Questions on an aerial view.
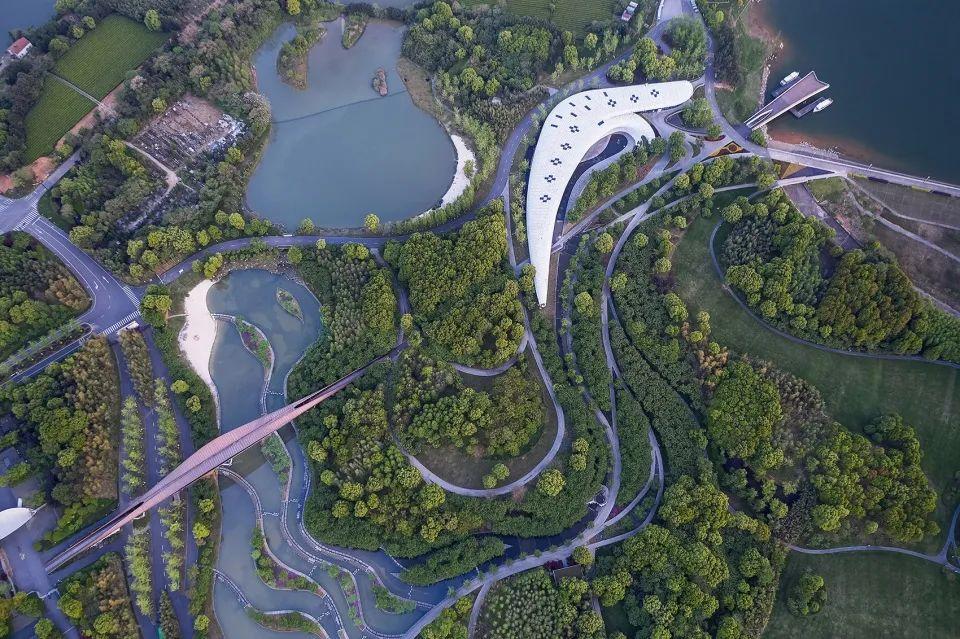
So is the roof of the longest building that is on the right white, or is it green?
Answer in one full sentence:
In this view, the roof of the longest building that is on the right is white.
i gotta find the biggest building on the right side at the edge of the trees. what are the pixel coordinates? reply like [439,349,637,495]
[527,81,694,307]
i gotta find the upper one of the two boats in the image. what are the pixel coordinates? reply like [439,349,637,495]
[779,70,800,85]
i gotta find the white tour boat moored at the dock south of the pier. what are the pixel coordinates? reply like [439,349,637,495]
[813,96,835,112]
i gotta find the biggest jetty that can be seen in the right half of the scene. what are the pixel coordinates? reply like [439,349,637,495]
[742,69,830,129]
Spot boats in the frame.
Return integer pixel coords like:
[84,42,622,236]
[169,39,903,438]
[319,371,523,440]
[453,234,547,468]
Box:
[779,70,800,85]
[813,96,835,112]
